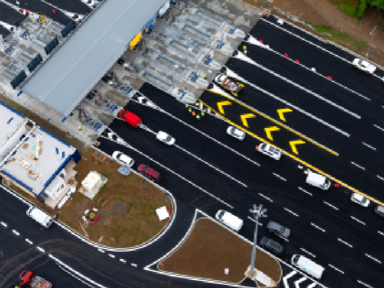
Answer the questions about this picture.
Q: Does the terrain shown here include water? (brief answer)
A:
No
